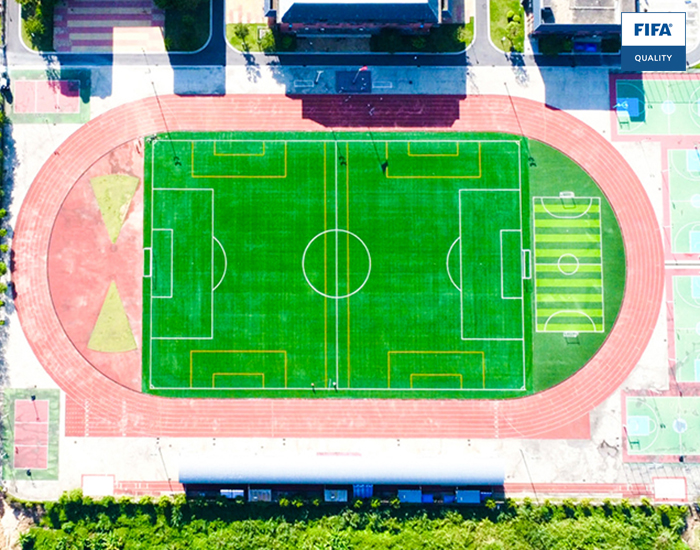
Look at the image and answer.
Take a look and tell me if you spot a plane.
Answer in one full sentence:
No, no plane is visible in the view.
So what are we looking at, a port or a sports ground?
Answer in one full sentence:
What you see here is a sports ground.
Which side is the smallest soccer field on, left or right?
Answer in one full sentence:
You can find the smallest soccer field on the right side of the picture.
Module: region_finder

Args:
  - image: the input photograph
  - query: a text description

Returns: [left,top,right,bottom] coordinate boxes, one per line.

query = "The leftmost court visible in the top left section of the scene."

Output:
[10,70,90,124]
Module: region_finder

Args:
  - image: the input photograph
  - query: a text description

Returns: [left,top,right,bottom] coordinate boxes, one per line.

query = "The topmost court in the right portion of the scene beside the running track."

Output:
[610,72,700,141]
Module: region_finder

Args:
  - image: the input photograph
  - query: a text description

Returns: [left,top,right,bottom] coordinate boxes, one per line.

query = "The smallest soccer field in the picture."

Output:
[532,197,605,333]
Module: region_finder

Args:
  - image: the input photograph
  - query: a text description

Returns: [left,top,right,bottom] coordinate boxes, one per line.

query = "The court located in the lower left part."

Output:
[1,389,61,480]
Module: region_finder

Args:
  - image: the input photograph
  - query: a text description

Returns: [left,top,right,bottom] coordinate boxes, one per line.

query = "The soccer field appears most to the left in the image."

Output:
[142,132,528,398]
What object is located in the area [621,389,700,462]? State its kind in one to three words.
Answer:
basketball court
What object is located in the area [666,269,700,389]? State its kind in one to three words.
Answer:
basketball court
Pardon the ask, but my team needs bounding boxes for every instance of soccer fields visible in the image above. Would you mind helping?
[142,132,528,398]
[532,197,605,333]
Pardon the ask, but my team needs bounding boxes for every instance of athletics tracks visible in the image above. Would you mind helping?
[10,95,664,437]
